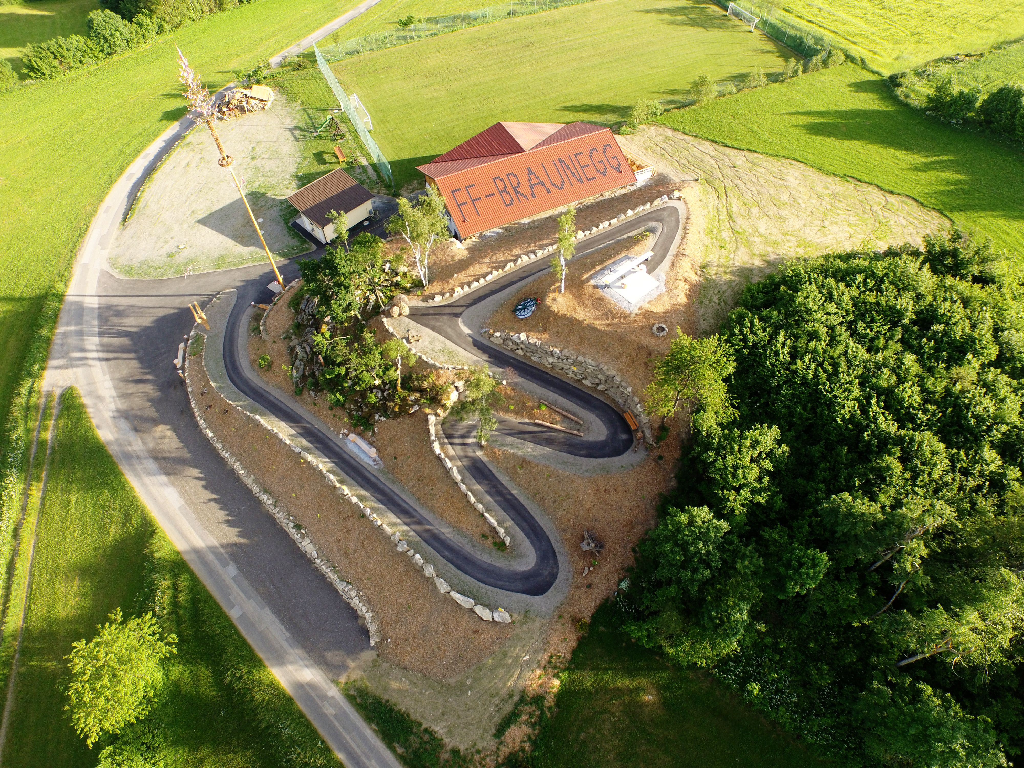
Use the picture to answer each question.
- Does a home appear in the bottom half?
No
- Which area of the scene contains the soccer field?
top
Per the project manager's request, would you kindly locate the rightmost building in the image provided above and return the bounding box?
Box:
[412,119,637,241]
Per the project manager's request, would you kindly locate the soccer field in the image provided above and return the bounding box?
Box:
[330,0,803,195]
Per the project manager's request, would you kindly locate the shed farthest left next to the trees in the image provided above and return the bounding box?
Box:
[287,167,376,239]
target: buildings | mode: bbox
[412,119,637,241]
[287,167,376,239]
